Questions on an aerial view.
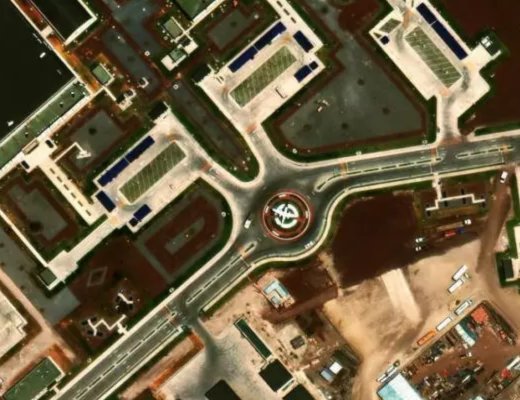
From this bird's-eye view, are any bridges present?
No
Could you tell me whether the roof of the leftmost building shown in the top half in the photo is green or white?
green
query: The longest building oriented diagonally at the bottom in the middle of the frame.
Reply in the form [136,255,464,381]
[234,319,271,358]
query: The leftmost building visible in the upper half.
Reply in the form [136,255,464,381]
[0,79,88,168]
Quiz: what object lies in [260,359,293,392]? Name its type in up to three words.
building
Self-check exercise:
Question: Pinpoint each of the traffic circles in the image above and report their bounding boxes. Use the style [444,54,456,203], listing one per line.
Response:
[261,190,312,242]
